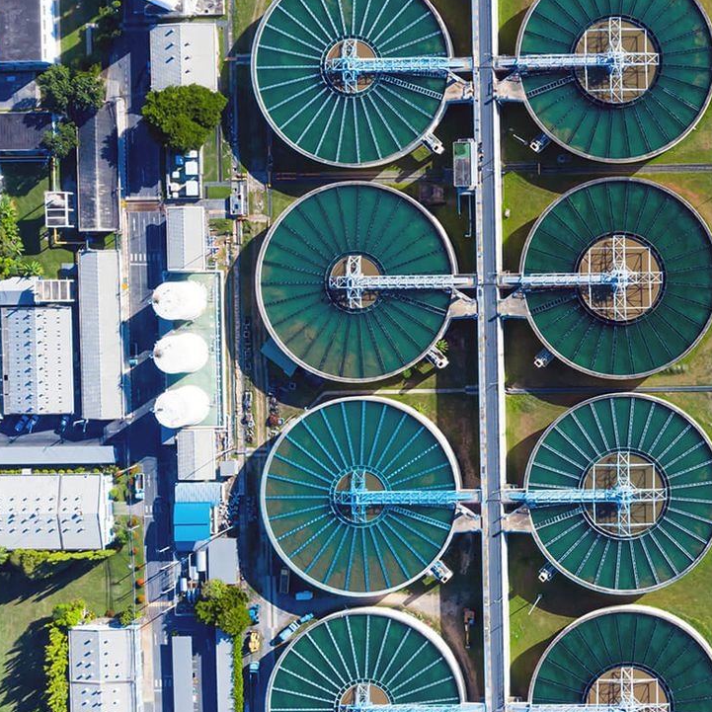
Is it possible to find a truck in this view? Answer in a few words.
Yes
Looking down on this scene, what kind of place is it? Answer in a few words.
industrial area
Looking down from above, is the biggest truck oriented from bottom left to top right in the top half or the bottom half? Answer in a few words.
bottom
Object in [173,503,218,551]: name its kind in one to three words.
shed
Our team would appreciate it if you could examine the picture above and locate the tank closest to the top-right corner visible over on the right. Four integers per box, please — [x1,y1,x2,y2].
[503,0,712,163]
